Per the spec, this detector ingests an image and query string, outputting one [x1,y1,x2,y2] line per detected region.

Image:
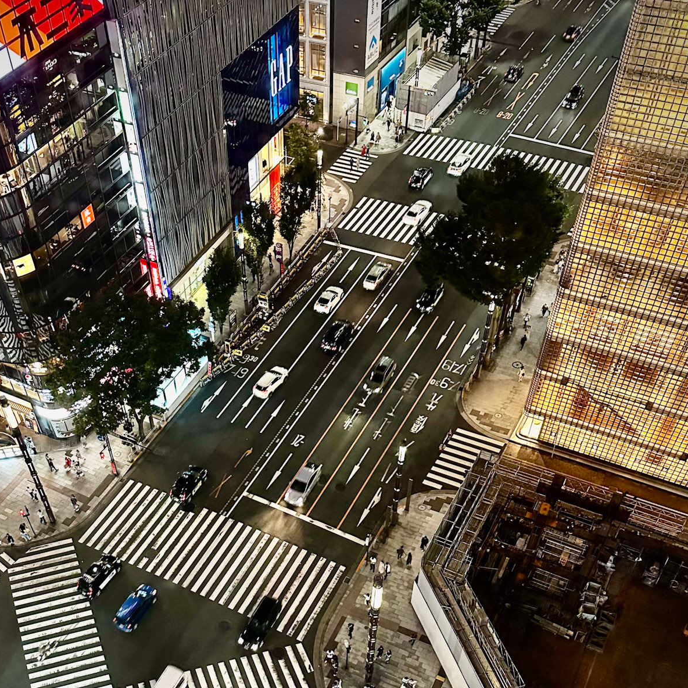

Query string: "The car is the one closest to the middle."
[320,320,356,358]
